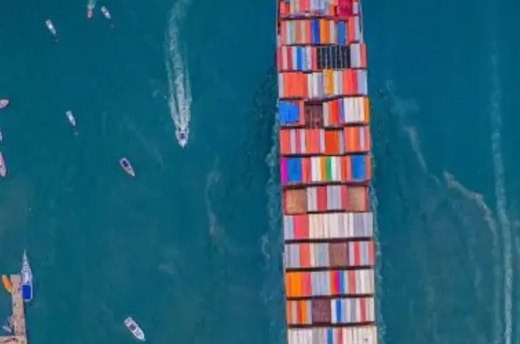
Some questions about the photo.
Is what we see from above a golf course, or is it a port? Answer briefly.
port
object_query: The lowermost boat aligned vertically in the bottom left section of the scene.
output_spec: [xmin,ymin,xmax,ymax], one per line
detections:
[16,250,31,303]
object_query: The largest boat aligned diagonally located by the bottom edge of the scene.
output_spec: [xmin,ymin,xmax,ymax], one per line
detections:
[123,315,145,341]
